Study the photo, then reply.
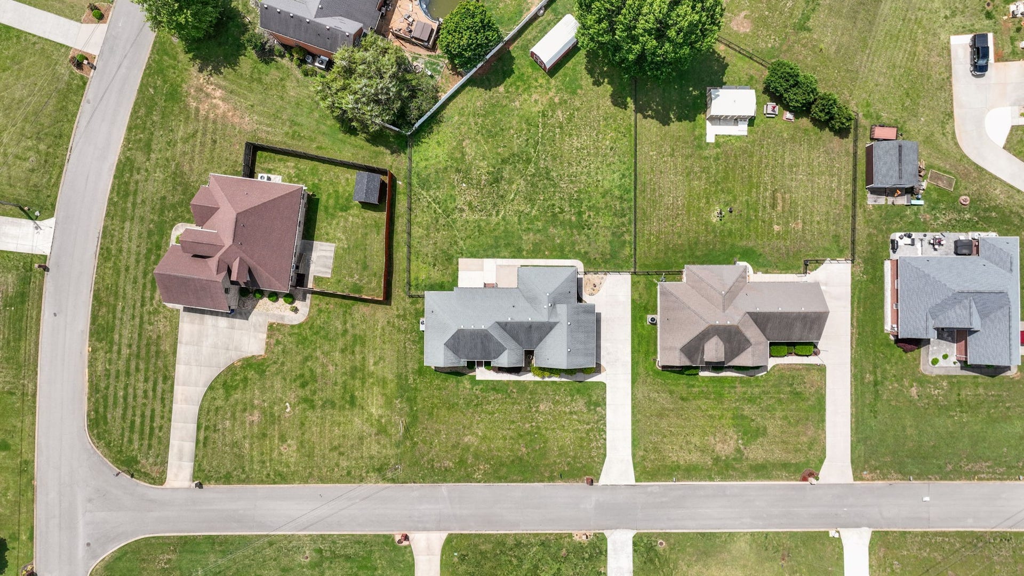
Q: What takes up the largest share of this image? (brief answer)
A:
grass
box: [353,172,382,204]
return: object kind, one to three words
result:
shed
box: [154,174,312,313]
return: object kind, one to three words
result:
house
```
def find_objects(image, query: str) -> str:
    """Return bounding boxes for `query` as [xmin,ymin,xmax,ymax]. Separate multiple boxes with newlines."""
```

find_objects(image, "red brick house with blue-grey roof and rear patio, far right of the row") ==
[890,237,1021,366]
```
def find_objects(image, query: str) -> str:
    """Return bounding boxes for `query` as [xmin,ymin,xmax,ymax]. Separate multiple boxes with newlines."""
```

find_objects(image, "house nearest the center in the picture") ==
[424,266,596,369]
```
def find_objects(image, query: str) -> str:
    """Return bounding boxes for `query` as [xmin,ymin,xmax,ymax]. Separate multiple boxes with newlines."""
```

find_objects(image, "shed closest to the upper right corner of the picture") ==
[867,140,919,187]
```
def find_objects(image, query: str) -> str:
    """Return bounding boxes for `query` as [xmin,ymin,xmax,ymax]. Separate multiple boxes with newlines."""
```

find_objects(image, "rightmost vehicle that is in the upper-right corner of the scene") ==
[969,33,991,75]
